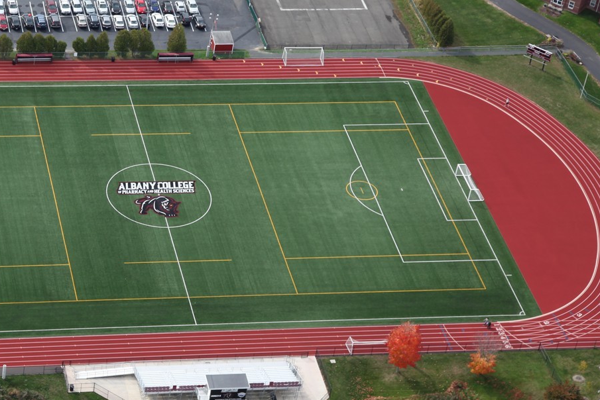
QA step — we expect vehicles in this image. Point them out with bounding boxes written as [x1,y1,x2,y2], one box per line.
[0,0,6,15]
[99,16,112,29]
[187,0,199,13]
[87,11,99,29]
[58,0,72,15]
[113,17,124,30]
[148,0,161,13]
[138,16,150,29]
[165,16,175,29]
[46,0,58,15]
[70,0,83,13]
[0,15,8,30]
[135,0,147,13]
[174,2,187,13]
[193,15,206,29]
[96,0,109,15]
[9,16,21,30]
[151,15,165,28]
[35,16,47,29]
[162,1,174,15]
[109,0,121,15]
[7,1,19,15]
[83,0,95,15]
[76,16,87,30]
[126,16,139,29]
[123,0,136,15]
[179,13,191,25]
